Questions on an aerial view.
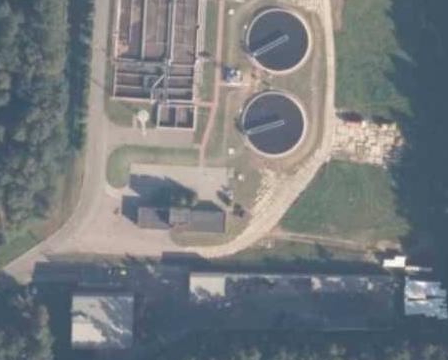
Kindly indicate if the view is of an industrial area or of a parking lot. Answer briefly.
industrial area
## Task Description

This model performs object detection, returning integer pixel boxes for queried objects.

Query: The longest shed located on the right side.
[190,272,403,328]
